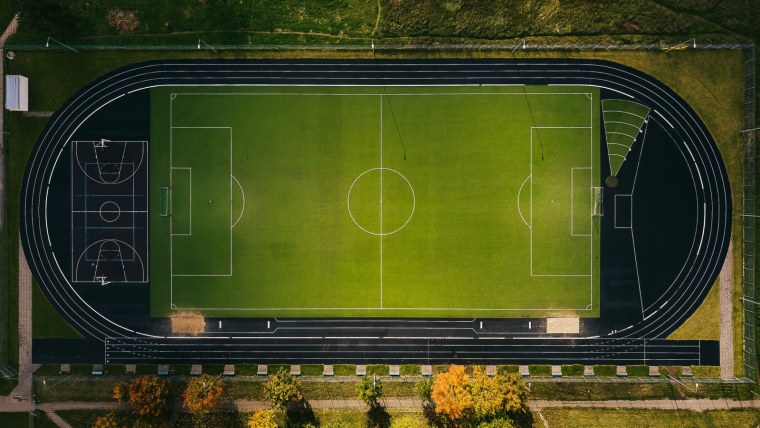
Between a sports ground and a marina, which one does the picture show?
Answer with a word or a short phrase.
sports ground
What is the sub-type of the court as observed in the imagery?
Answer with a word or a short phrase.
basketball court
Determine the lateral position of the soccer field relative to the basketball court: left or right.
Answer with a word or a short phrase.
on its right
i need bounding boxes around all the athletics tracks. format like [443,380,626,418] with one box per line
[20,59,731,366]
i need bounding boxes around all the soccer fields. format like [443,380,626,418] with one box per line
[150,87,600,317]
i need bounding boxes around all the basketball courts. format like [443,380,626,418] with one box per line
[71,141,148,283]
